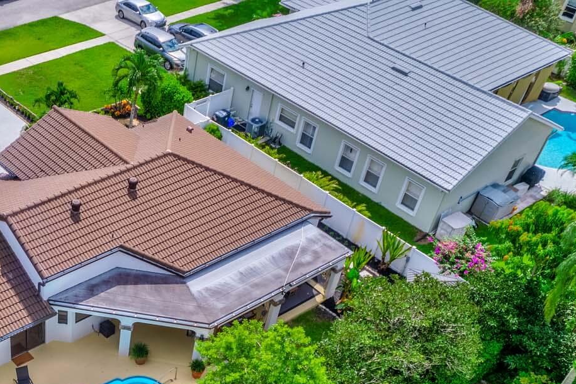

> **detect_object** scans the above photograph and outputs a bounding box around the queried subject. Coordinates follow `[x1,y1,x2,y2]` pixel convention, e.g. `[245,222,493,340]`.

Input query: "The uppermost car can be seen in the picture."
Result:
[113,0,165,30]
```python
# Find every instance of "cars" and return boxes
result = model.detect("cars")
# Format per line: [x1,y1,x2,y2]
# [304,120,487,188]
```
[165,20,216,44]
[137,28,190,70]
[113,0,165,30]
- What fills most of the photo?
buildings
